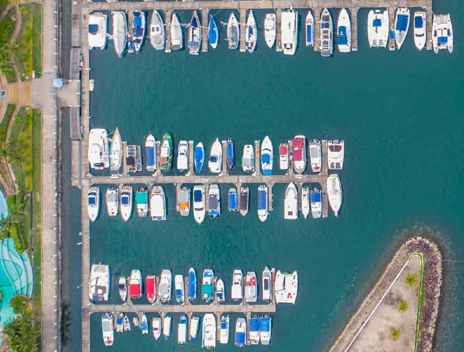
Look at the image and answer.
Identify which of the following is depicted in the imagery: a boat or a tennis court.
boat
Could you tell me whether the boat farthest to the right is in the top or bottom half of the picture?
top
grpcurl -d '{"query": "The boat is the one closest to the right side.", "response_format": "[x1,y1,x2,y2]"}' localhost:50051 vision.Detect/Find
[432,14,452,52]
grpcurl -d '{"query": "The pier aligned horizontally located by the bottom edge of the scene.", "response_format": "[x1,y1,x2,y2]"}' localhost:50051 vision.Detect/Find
[89,268,278,345]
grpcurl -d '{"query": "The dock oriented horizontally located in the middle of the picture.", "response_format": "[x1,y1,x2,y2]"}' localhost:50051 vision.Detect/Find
[89,140,330,218]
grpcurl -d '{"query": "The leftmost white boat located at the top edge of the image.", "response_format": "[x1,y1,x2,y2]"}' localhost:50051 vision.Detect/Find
[88,12,108,50]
